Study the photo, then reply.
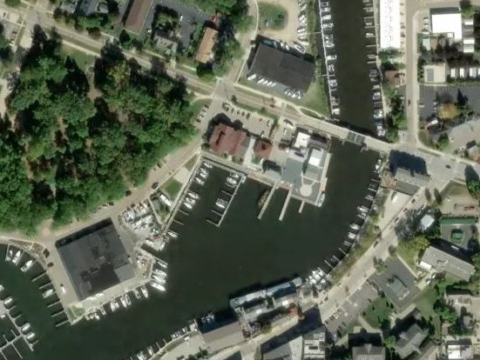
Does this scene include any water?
Yes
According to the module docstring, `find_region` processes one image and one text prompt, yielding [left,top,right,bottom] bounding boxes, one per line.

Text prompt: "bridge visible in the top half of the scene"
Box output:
[327,122,382,152]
